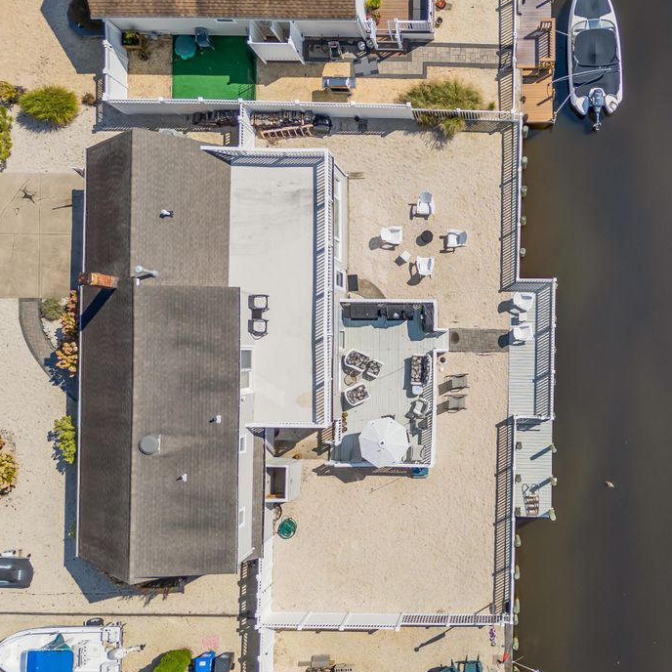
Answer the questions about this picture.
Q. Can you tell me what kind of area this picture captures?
residential area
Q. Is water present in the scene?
Yes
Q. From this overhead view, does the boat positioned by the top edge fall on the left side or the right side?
right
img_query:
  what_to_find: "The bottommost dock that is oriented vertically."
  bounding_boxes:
[516,419,552,518]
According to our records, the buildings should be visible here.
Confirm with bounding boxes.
[85,0,362,35]
[76,130,349,583]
